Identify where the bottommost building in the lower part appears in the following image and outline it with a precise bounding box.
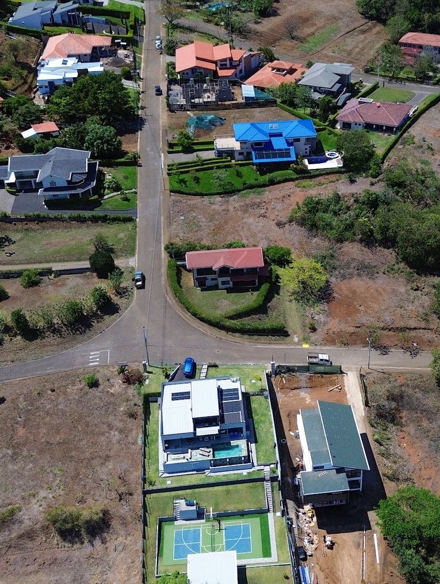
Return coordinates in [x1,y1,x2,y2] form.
[187,551,238,584]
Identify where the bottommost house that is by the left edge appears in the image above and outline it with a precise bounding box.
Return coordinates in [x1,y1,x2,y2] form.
[0,150,108,207]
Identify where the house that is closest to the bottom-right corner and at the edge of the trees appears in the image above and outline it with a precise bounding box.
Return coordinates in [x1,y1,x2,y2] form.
[299,400,370,520]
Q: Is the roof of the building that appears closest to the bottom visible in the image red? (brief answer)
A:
No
